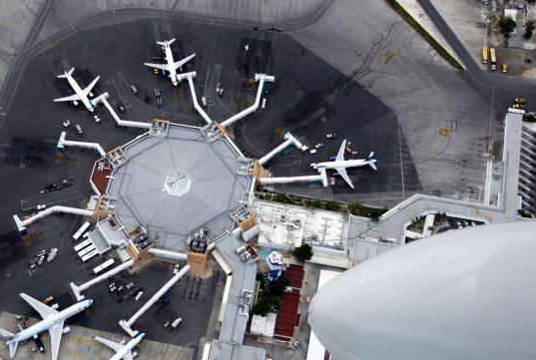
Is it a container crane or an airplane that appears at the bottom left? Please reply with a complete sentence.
What appears at the bottom left is an airplane.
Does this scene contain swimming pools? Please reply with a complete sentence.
No, there's no swimming pool here.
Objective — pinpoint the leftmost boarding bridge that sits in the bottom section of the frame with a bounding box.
[13,205,93,235]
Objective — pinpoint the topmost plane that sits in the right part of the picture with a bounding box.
[313,139,377,187]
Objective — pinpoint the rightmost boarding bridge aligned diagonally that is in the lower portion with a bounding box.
[118,266,191,339]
